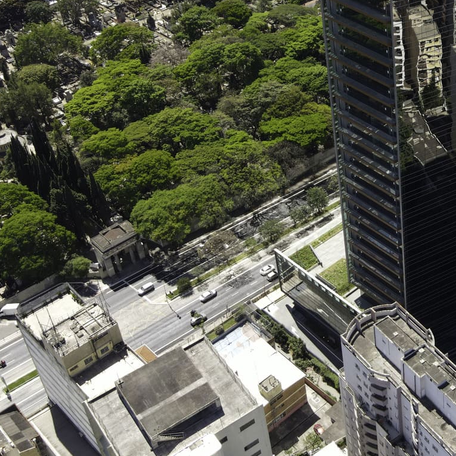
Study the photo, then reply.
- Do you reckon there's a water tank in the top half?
No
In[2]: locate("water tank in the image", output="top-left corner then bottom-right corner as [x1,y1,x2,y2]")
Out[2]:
[262,355,291,387]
